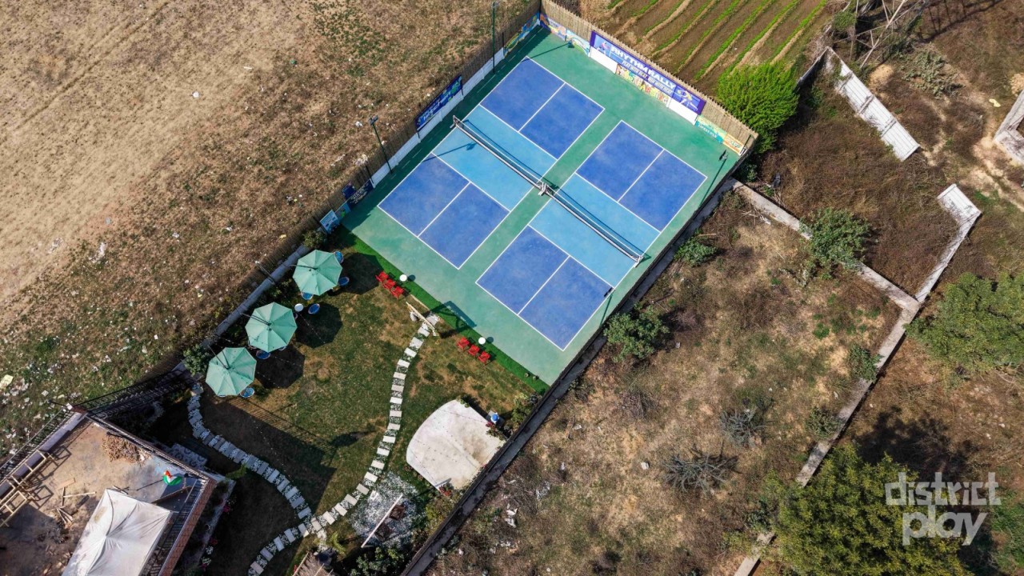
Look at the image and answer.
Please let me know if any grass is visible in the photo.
Yes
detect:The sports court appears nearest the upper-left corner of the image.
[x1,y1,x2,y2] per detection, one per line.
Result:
[378,56,605,269]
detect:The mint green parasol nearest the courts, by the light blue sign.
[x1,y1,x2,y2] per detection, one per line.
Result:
[288,248,343,294]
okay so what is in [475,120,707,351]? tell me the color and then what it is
blue sports court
